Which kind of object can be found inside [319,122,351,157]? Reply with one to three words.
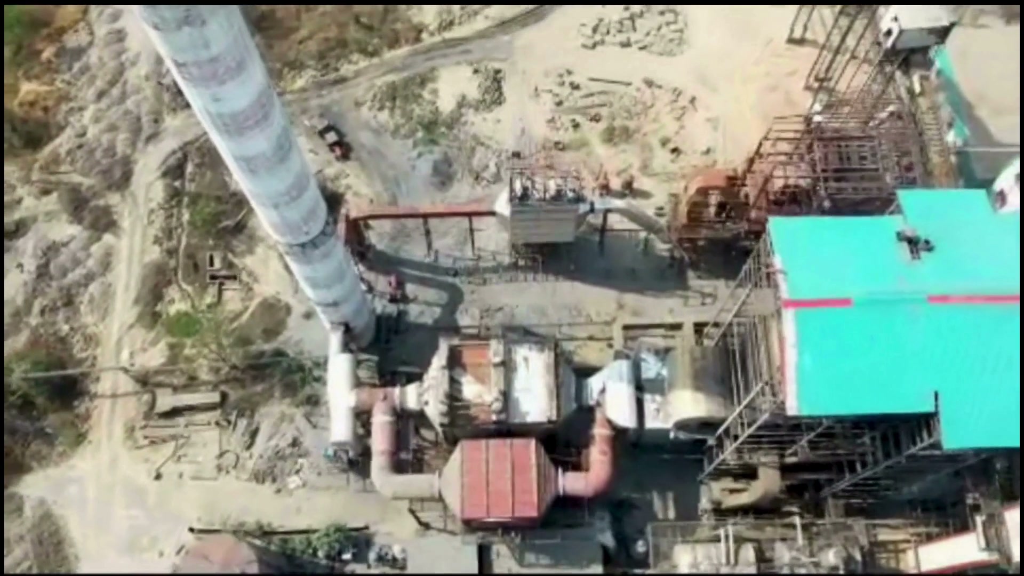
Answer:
work vehicle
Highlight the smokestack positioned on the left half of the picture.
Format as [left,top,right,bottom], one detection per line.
[125,0,379,357]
